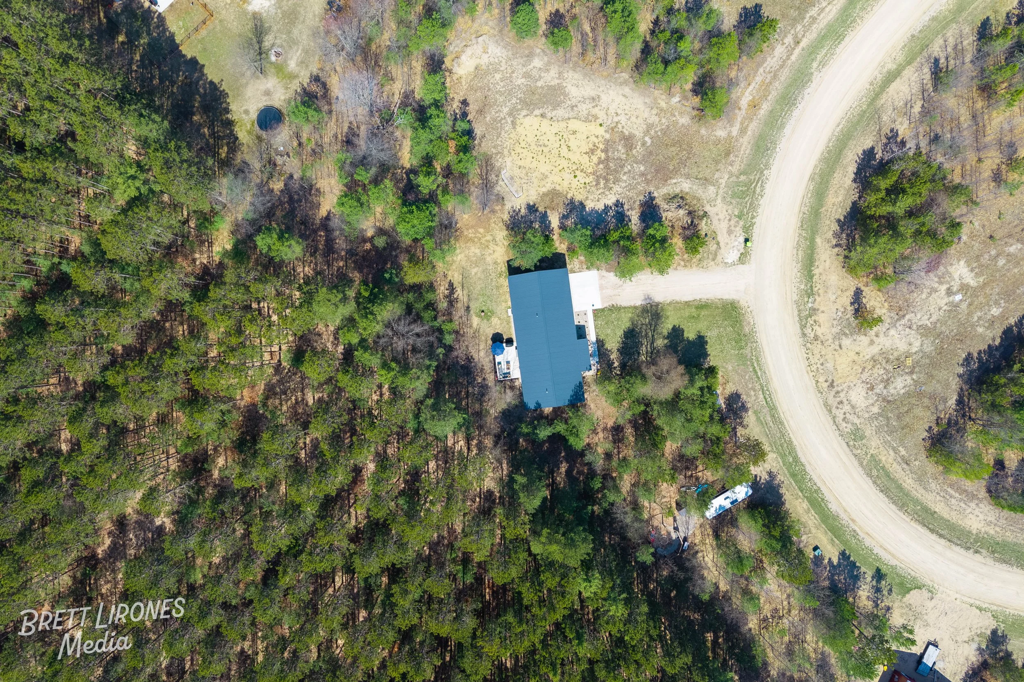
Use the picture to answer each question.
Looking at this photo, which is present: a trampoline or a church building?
trampoline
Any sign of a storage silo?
No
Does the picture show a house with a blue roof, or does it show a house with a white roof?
house with a blue roof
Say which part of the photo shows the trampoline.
top left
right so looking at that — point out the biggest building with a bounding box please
[508,268,592,409]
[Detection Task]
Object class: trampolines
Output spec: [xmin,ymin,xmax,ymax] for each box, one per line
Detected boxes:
[256,105,283,132]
